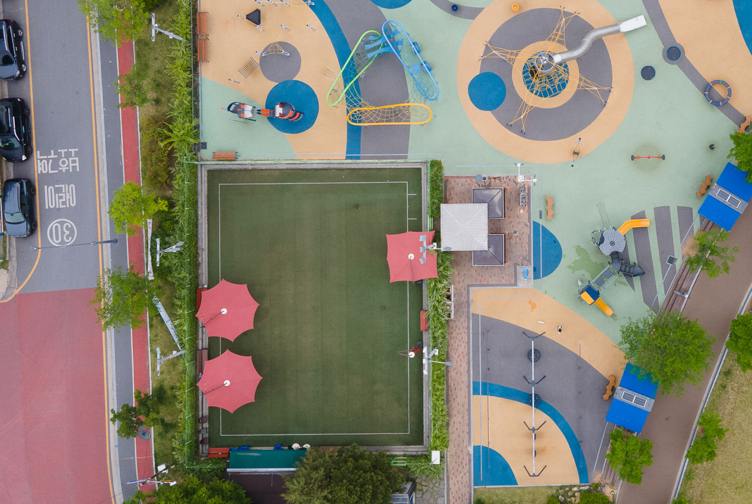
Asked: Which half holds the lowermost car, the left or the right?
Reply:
left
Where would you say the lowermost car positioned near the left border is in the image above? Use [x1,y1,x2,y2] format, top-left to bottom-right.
[2,179,37,237]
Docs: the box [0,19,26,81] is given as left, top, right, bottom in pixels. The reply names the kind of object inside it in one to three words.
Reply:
car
